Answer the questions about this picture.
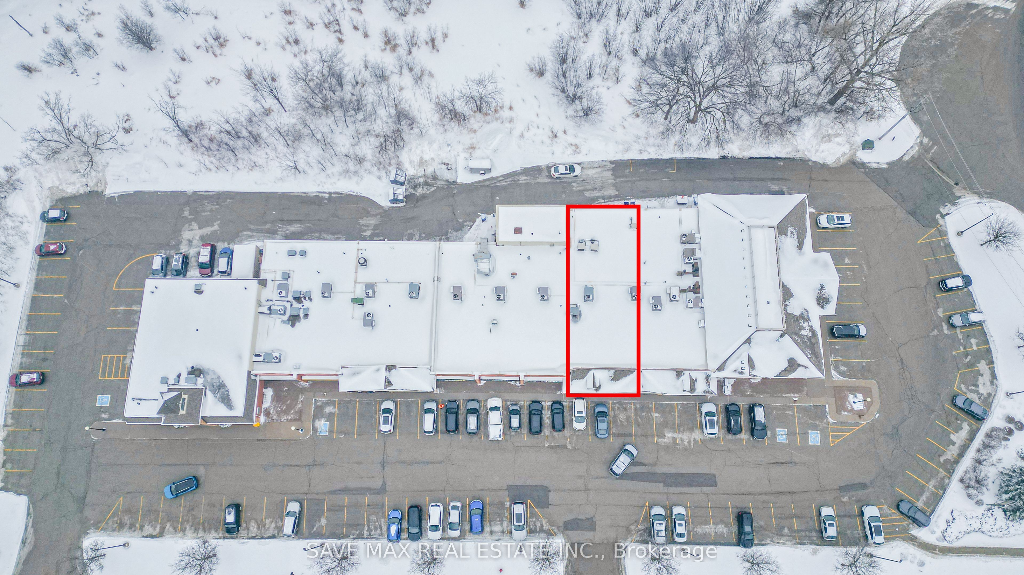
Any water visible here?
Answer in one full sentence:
No, no water is visible.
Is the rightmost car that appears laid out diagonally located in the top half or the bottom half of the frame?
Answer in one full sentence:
You can find the rightmost car that appears laid out diagonally in the bottom half.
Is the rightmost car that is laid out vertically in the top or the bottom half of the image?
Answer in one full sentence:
The rightmost car that is laid out vertically sits in the bottom half of the picture.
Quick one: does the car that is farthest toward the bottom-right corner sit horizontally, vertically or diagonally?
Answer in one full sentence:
The car that is farthest toward the bottom-right corner is laid out diagonally.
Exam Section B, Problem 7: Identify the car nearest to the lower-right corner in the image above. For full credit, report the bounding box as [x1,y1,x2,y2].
[895,499,932,530]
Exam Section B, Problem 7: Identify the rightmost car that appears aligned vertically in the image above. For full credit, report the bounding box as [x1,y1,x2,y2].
[861,505,886,546]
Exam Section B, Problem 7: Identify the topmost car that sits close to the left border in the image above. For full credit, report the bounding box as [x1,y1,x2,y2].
[39,209,70,224]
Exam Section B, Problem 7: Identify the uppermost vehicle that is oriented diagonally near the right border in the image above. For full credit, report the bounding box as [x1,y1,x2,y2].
[950,393,991,423]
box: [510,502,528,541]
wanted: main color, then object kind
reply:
white car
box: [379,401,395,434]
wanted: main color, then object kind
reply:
white car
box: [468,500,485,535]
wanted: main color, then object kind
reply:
blue car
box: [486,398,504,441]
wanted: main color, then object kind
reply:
white vehicle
